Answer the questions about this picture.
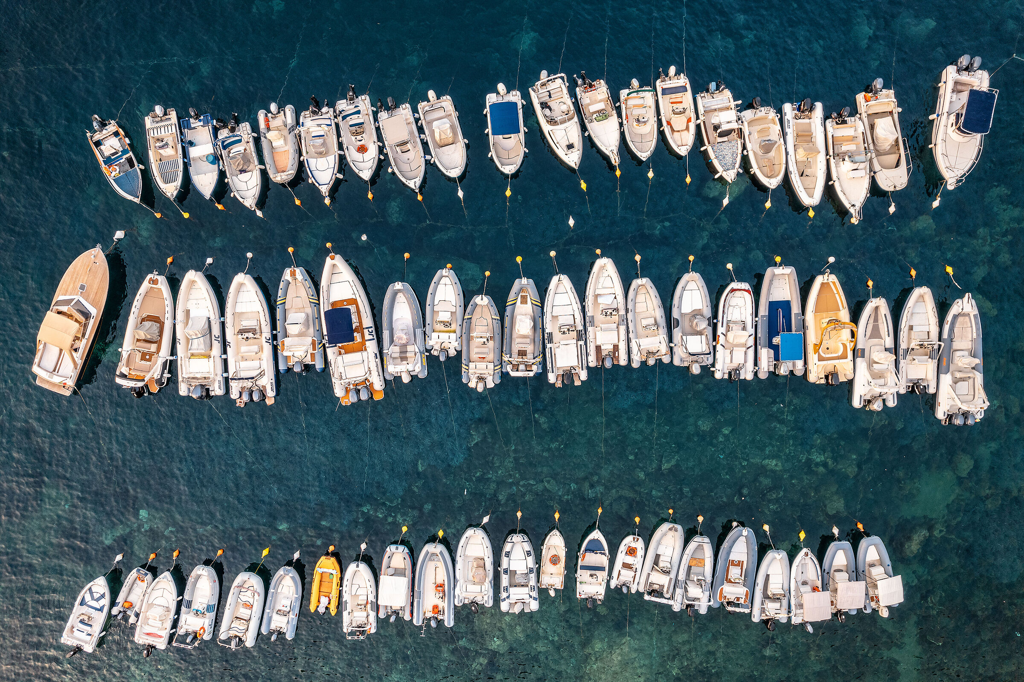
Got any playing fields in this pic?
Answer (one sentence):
No, no playing field is visible in the scene.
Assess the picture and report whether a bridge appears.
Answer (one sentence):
No, the photo shows no bridge.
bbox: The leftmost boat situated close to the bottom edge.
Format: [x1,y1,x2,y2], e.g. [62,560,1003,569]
[62,576,113,660]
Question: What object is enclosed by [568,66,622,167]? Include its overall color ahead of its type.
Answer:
white boat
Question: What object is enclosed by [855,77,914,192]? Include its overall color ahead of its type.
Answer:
white boat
